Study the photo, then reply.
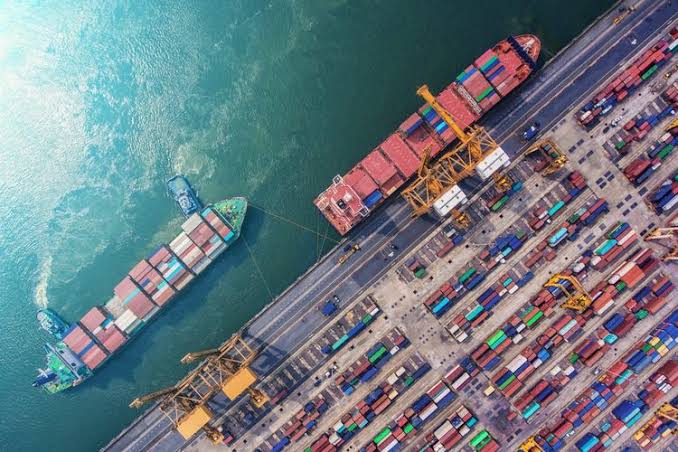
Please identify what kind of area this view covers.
port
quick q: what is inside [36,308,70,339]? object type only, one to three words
boat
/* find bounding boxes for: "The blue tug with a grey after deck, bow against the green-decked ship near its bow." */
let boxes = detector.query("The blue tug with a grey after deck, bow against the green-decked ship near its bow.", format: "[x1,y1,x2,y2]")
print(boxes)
[169,175,199,214]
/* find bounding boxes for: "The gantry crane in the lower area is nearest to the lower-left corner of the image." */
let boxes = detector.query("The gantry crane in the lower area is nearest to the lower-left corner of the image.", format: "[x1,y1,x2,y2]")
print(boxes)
[130,359,229,445]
